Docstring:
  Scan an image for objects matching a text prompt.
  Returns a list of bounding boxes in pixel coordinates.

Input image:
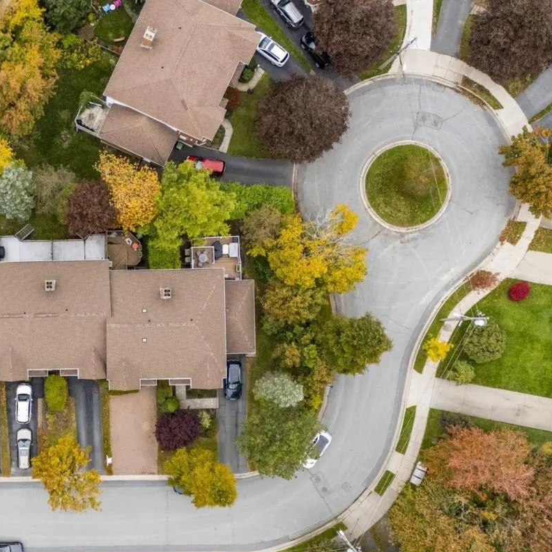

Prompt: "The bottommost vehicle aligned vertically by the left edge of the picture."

[14,428,34,468]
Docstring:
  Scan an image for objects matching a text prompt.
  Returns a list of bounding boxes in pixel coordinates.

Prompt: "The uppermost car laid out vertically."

[224,360,243,398]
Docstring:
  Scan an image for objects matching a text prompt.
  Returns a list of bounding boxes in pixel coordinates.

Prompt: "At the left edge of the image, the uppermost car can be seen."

[13,382,33,422]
